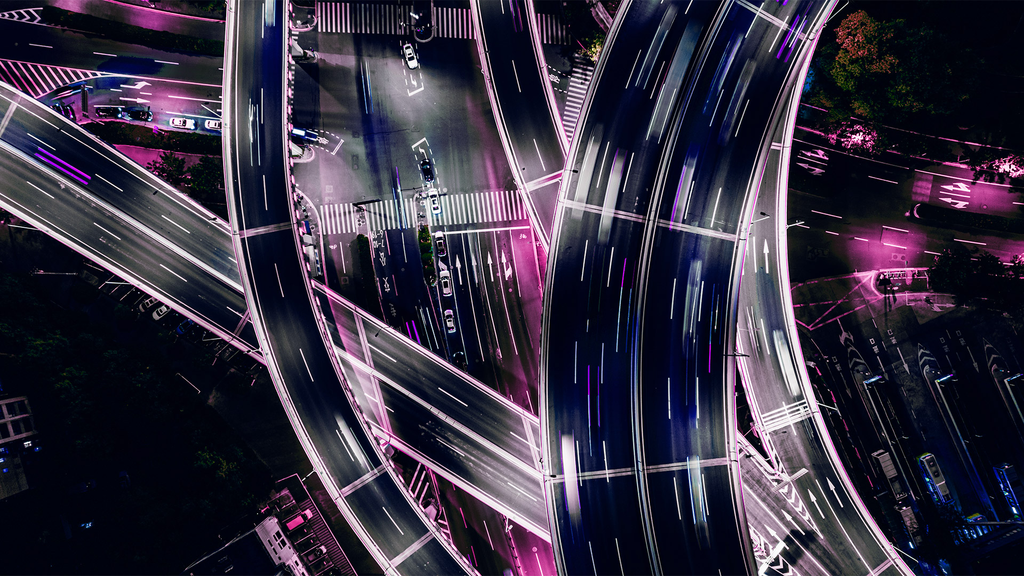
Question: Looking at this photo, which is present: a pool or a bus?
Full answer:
I can see a bus in this picture.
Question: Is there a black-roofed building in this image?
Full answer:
Yes, you can see a black-roofed building in this photo.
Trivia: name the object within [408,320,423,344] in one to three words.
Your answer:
car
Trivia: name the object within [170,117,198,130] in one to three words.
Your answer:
vehicle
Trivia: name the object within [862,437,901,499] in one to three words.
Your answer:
bus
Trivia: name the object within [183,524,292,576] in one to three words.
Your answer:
building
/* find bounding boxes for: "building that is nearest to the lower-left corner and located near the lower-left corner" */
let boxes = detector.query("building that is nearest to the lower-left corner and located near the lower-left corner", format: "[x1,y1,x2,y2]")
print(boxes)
[0,449,51,498]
